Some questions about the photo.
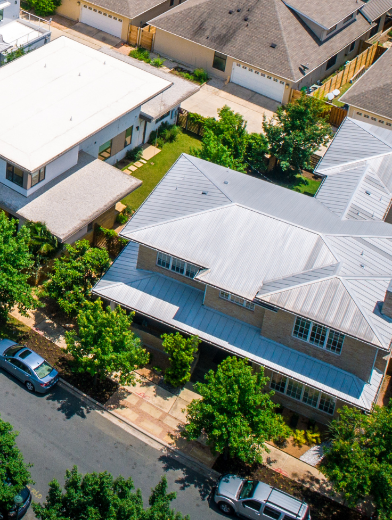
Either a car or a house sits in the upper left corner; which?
house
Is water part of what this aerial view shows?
No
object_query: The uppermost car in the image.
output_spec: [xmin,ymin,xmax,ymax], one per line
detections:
[0,341,62,399]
